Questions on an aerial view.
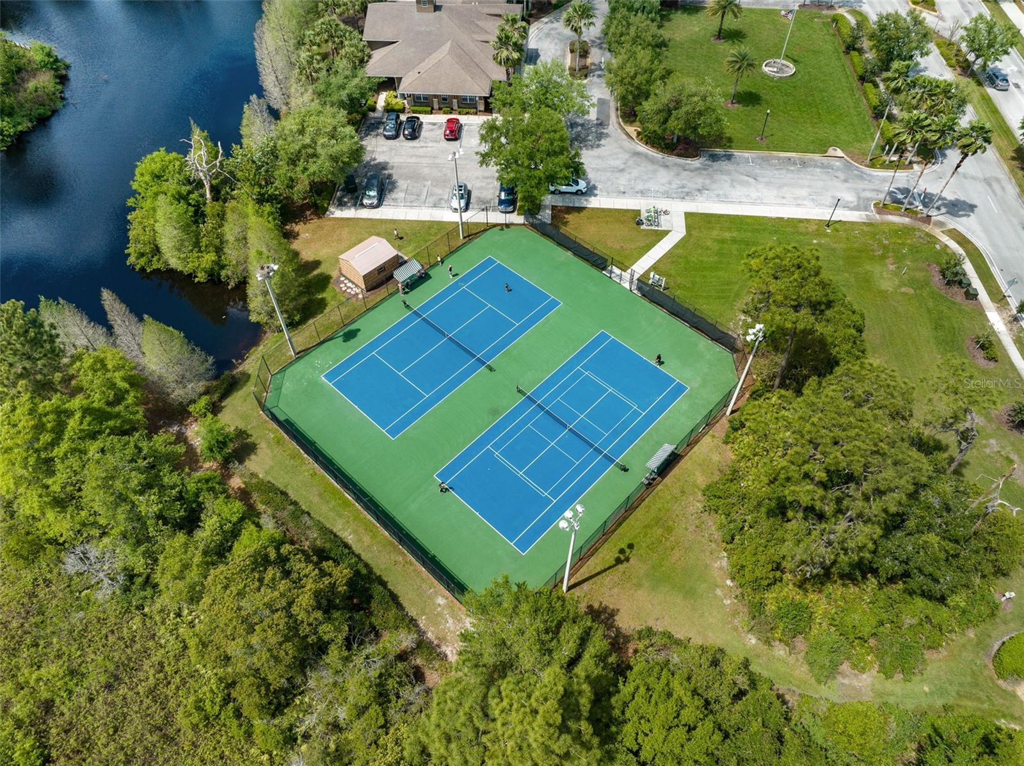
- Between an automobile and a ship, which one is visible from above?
automobile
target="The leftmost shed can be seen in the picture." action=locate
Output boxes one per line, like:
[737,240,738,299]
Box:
[331,232,400,292]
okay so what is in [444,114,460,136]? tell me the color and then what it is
red car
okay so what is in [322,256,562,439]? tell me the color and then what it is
blue tennis court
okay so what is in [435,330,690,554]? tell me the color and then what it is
blue tennis court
